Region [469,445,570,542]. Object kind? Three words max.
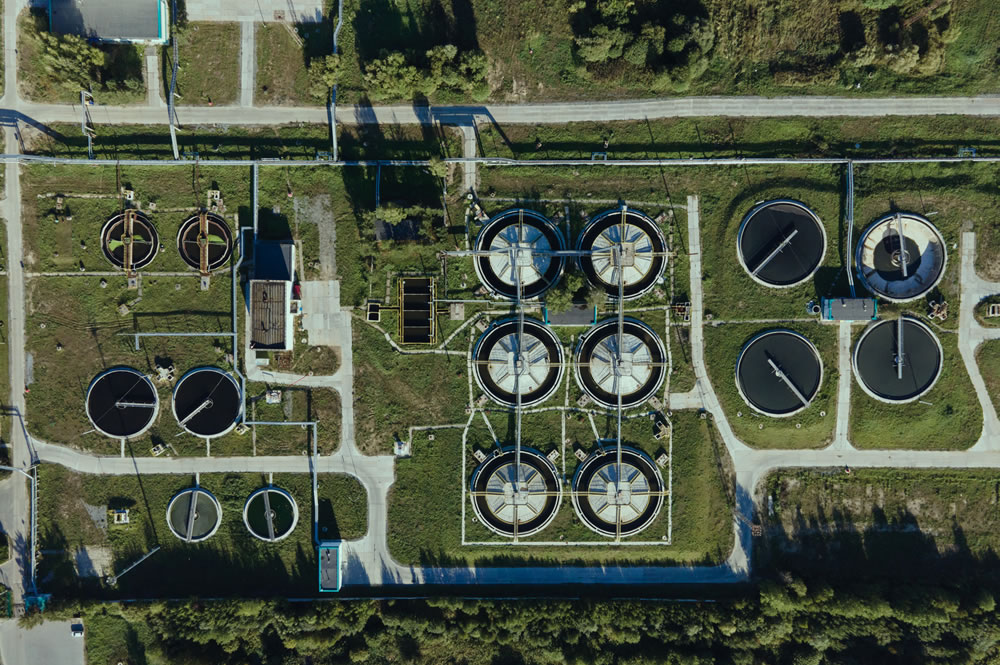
storage tank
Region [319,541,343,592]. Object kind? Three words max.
building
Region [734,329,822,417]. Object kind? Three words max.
storage tank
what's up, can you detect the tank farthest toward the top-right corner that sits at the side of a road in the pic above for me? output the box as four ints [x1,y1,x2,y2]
[854,213,945,303]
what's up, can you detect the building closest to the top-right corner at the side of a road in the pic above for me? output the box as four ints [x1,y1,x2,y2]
[815,298,877,324]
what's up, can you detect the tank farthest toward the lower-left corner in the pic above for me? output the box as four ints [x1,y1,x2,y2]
[167,486,223,542]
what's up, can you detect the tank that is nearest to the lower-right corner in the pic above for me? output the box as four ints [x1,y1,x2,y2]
[852,314,940,405]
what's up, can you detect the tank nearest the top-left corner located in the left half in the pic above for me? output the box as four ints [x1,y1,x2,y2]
[102,208,160,283]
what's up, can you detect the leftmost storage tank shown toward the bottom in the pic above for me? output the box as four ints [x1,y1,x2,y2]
[88,367,160,438]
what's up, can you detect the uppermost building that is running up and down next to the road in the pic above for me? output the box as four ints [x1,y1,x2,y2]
[248,242,300,349]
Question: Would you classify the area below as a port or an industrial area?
industrial area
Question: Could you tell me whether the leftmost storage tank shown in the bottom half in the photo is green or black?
black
